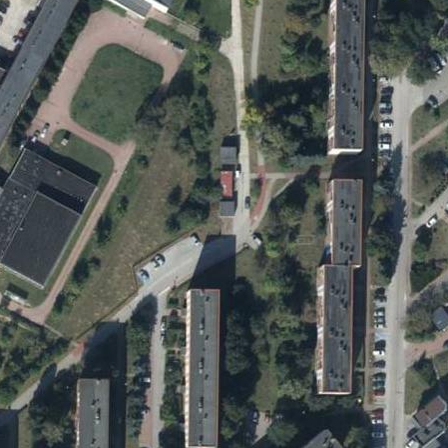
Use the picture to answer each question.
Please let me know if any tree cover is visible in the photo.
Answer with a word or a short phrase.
Yes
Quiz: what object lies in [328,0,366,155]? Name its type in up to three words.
building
